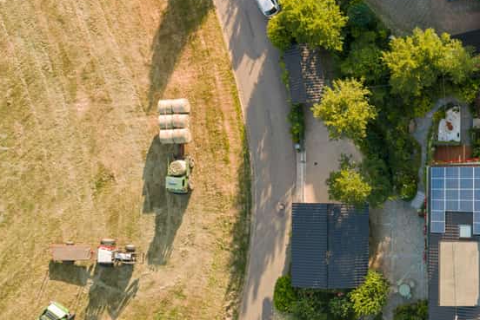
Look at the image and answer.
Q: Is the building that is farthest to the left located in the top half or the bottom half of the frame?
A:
top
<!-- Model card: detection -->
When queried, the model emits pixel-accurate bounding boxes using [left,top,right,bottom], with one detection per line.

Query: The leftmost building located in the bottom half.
[291,203,373,289]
